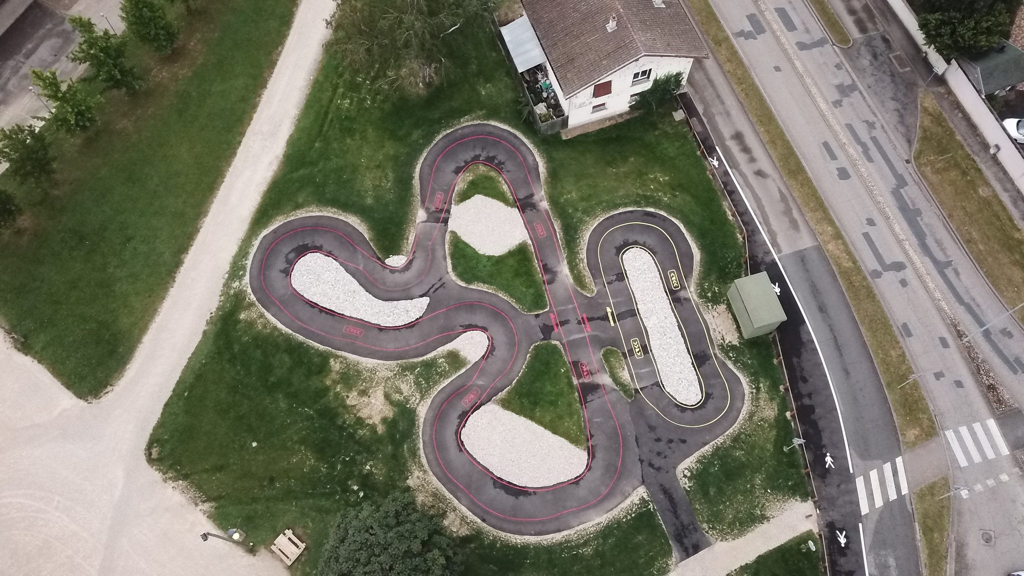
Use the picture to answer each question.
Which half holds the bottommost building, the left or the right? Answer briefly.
right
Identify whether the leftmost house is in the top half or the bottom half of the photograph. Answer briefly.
top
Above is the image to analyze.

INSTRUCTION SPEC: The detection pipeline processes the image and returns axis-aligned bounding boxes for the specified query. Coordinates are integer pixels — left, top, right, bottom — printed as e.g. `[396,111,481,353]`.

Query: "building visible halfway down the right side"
[727,271,788,339]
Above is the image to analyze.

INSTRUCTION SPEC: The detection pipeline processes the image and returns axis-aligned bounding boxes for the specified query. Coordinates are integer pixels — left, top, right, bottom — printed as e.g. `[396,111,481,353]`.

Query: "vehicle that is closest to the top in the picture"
[1004,116,1024,143]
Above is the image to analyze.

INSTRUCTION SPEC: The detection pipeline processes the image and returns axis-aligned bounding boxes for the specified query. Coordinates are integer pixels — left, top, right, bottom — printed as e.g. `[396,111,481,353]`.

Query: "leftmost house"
[510,0,711,127]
